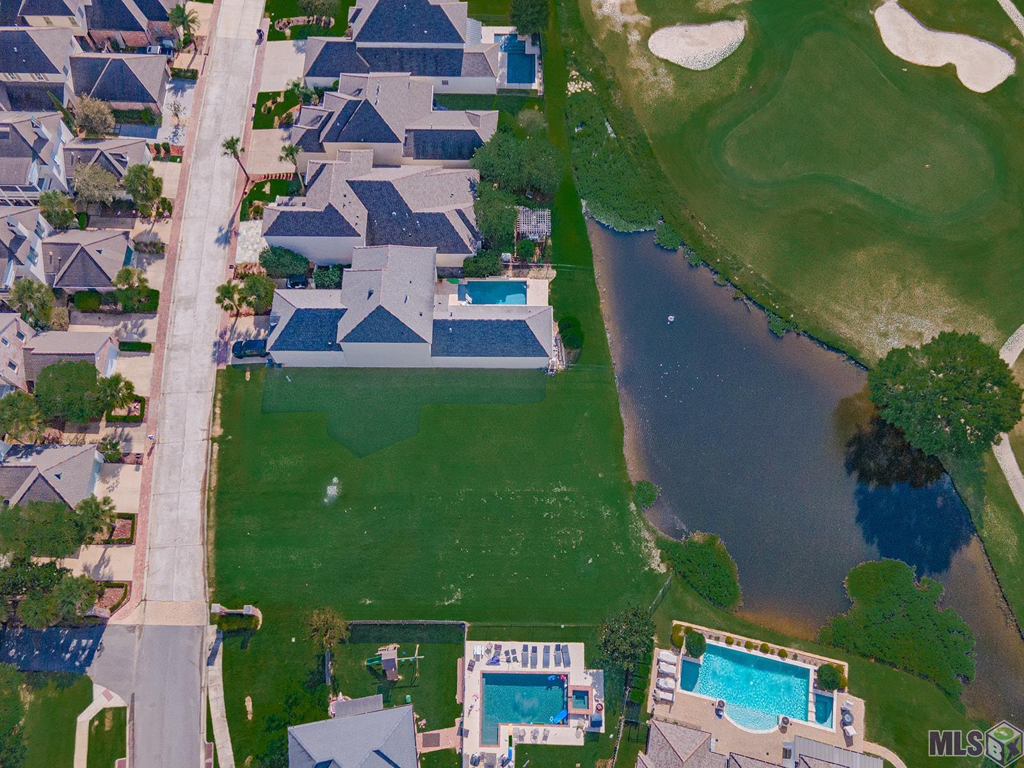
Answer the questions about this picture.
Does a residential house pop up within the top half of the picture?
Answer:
Yes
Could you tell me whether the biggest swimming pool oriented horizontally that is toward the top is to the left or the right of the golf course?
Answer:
to the left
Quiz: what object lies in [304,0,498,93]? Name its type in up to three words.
house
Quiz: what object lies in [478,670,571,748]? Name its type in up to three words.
swimming pool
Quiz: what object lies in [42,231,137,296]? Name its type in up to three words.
building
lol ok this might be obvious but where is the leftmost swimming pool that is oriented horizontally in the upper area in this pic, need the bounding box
[456,279,529,306]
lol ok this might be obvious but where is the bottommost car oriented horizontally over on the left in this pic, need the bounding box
[228,339,269,359]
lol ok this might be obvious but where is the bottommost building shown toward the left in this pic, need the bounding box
[287,694,420,768]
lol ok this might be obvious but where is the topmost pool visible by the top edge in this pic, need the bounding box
[492,32,537,84]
